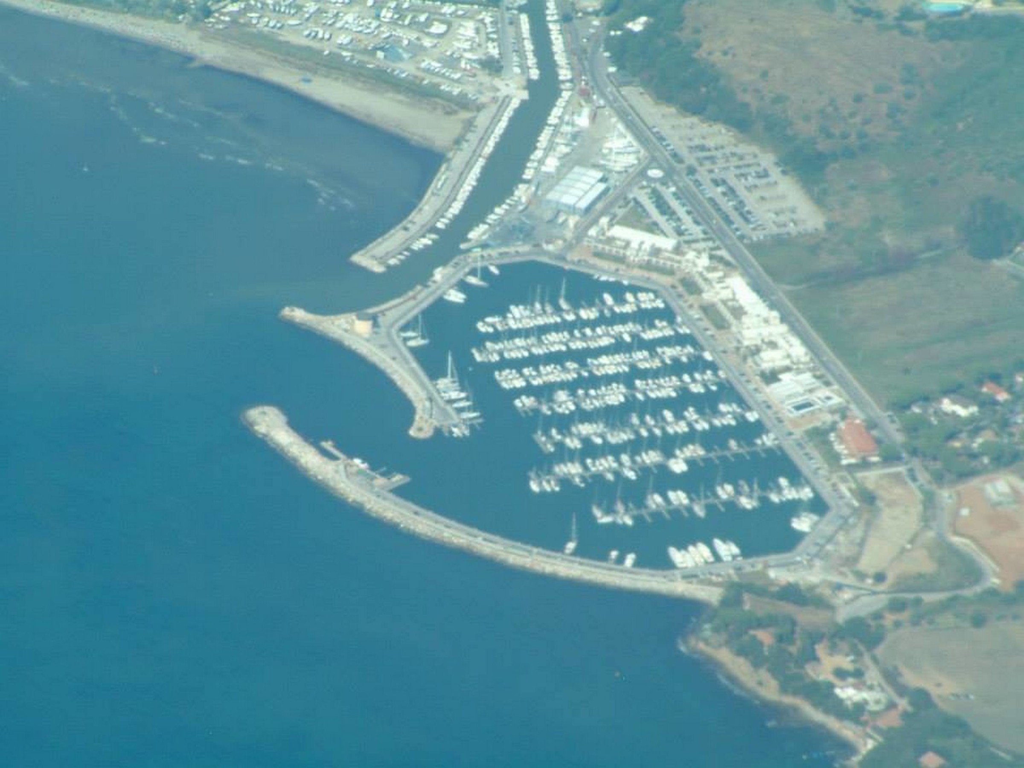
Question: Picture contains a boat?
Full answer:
Yes, the photo shows a boat.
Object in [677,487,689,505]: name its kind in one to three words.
boat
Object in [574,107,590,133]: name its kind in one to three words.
building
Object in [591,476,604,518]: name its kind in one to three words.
boat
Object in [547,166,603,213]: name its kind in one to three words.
shed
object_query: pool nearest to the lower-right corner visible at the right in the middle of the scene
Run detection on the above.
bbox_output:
[789,401,817,413]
